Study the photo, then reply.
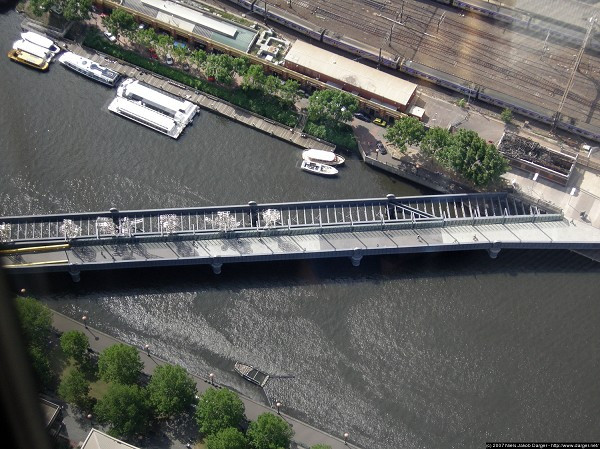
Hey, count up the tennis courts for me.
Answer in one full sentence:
The count of tennis courts is 0.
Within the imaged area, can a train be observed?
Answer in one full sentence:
Yes, a train can be made out from above.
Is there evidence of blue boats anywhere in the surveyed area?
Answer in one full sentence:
No, there's no blue boat here.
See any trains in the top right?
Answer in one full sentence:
Yes, a train shows up in the top right.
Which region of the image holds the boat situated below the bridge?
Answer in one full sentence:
Look in the bottom portion of the view to spot the boat situated below the bridge.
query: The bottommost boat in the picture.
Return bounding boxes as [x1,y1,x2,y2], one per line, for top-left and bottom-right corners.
[233,365,271,387]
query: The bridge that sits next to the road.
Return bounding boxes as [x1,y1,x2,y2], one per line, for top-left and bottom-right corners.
[0,191,600,285]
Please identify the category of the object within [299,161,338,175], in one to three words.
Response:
boat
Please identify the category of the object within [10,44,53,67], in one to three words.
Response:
boat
